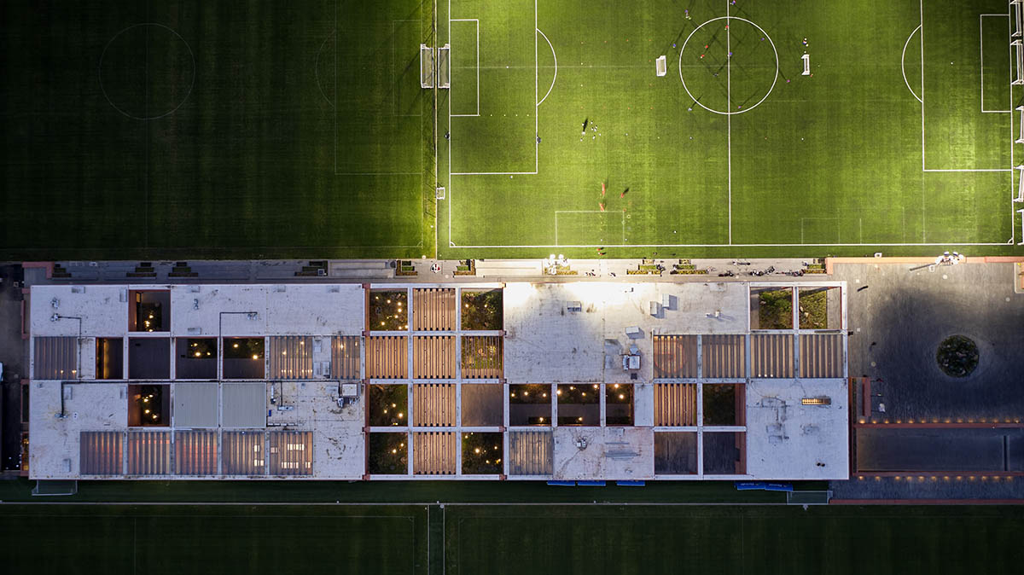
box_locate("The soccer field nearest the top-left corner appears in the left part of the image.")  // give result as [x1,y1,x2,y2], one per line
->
[0,0,428,259]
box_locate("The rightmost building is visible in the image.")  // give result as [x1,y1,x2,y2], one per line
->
[505,282,848,479]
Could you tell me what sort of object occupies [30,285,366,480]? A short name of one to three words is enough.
building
